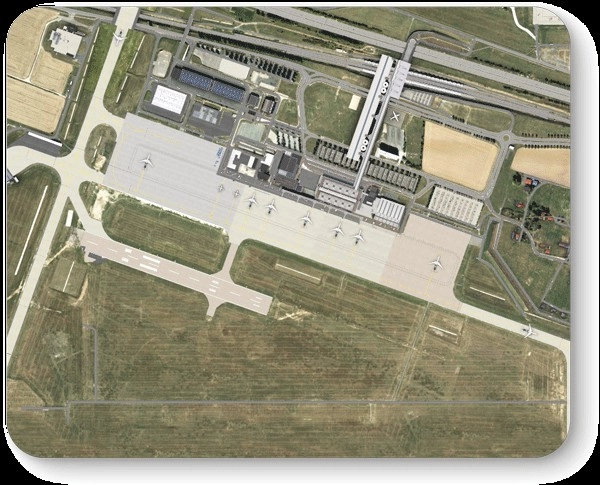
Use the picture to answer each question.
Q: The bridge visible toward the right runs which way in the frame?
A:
from side to side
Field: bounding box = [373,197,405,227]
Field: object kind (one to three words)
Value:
building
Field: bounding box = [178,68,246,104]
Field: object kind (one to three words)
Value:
hangar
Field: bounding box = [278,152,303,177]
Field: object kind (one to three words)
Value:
building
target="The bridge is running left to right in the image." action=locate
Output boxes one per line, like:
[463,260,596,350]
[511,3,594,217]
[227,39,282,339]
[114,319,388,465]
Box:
[402,30,476,65]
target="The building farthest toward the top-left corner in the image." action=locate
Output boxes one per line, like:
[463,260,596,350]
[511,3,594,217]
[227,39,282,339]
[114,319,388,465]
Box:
[49,28,81,57]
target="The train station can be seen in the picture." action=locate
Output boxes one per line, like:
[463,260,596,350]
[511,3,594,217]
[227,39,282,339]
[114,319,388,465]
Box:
[344,57,478,100]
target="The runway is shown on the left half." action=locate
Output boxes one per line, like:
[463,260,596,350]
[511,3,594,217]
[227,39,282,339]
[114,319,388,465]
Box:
[77,230,272,317]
